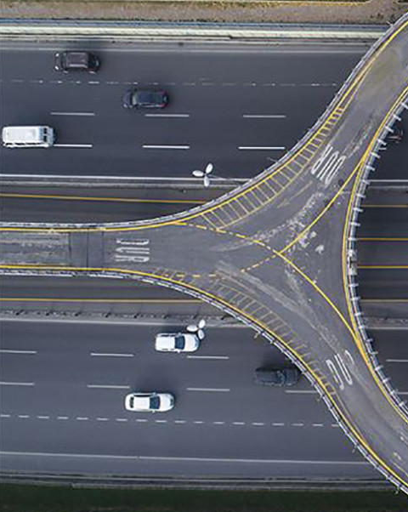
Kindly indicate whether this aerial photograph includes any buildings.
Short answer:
No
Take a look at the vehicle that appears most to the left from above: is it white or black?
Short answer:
white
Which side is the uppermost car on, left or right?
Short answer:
left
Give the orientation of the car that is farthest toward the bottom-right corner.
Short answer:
from side to side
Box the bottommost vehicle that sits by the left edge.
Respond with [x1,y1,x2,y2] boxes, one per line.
[3,123,57,149]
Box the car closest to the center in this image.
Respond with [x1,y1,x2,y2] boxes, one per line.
[153,331,201,355]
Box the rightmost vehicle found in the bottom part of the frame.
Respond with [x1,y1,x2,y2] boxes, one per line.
[254,364,302,389]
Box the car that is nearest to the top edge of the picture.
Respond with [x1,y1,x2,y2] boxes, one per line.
[55,50,102,74]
